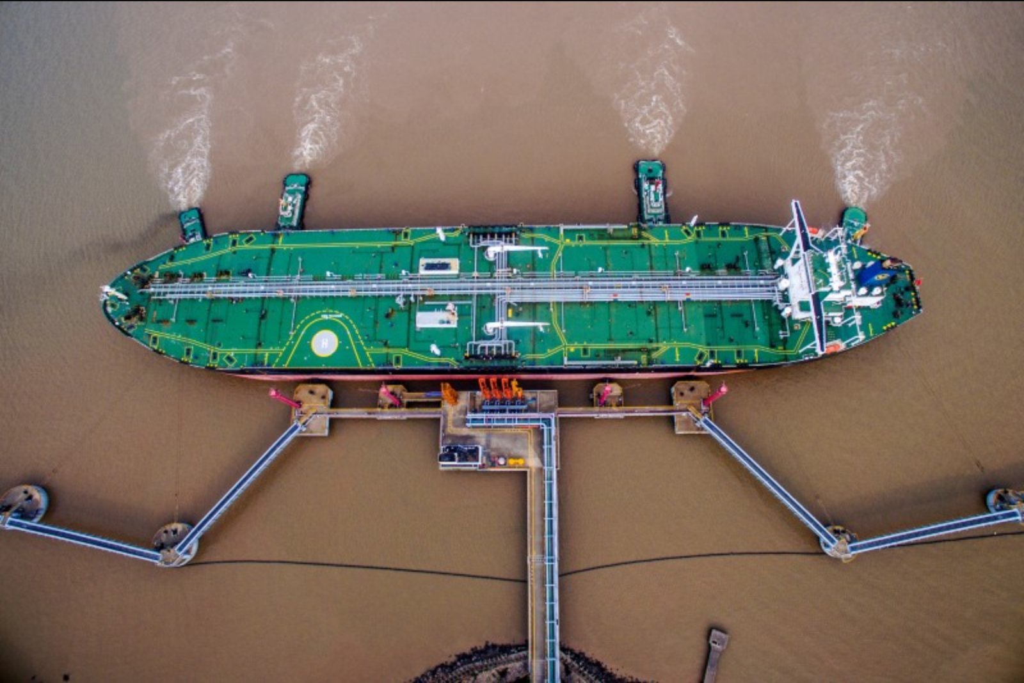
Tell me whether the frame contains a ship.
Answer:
Yes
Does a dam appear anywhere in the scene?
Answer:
No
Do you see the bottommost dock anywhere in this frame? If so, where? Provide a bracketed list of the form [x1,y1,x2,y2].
[703,629,729,683]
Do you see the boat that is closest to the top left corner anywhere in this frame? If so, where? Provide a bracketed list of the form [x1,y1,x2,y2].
[179,206,211,243]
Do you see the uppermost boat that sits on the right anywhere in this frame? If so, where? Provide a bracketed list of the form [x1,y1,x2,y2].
[635,160,669,224]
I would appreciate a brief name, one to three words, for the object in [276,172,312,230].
boat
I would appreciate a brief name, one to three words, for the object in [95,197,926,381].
ship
